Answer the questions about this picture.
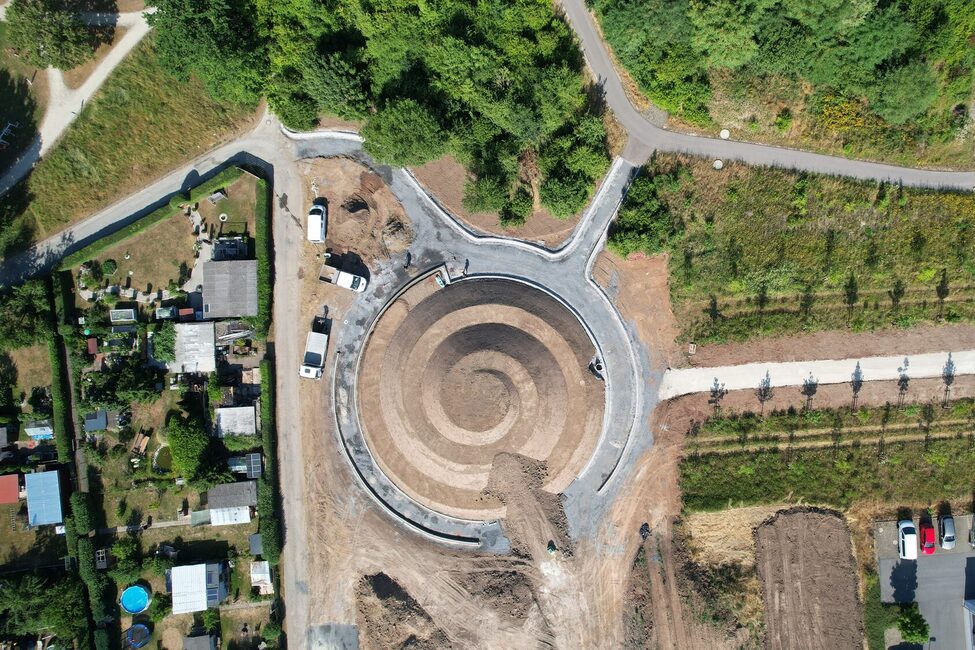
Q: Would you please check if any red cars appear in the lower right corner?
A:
Yes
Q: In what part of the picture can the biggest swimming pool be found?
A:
bottom left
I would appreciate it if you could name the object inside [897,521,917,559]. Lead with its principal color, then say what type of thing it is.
white car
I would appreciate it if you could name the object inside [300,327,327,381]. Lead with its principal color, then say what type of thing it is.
white truck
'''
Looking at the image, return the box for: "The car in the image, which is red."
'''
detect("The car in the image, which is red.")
[918,524,936,554]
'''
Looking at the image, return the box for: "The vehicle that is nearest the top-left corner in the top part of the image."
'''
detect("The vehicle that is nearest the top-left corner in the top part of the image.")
[308,203,327,243]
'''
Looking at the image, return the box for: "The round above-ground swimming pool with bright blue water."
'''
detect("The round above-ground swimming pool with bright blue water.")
[119,582,152,615]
